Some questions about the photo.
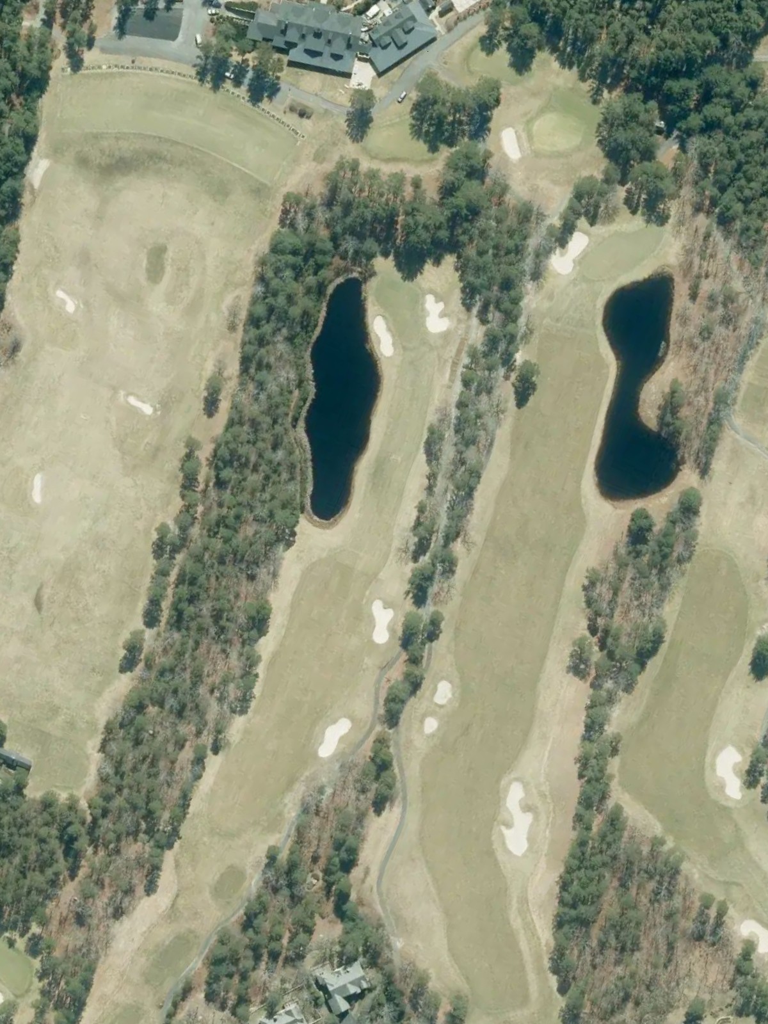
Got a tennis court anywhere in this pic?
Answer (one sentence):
No, I can't see a single tennis court in this photo.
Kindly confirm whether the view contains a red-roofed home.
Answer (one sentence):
No, no red-roofed home is visible in the scene.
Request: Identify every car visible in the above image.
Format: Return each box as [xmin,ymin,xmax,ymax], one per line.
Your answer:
[398,91,406,102]
[225,72,235,79]
[210,0,220,7]
[195,33,201,44]
[208,9,218,14]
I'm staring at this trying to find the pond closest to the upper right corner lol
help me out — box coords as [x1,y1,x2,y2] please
[594,273,678,500]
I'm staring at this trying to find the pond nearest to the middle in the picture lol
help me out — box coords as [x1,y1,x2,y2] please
[304,277,380,520]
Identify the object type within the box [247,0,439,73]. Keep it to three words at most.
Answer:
building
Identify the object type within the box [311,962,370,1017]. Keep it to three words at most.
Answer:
house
